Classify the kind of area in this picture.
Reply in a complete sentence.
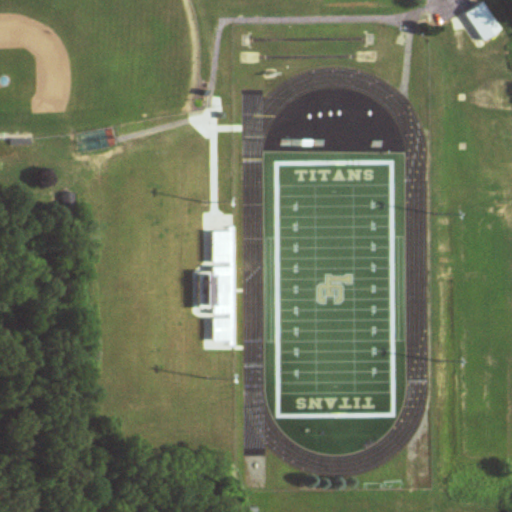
The picture captures a sports ground.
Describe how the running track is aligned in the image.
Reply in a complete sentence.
I'd say the running track is aligned up and down in the picture.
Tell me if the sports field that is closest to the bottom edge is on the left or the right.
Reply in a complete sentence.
The sports field that is closest to the bottom edge is on the right side of the image.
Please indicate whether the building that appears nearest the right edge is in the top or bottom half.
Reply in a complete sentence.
It is in the top half that the building that appears nearest the right edge appears.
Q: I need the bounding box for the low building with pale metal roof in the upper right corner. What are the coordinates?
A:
[464,2,502,40]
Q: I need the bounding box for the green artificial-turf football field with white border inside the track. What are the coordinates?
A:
[266,152,405,453]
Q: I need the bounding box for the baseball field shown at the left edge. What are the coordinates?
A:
[0,13,71,113]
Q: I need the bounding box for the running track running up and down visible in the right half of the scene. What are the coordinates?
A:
[244,68,427,474]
